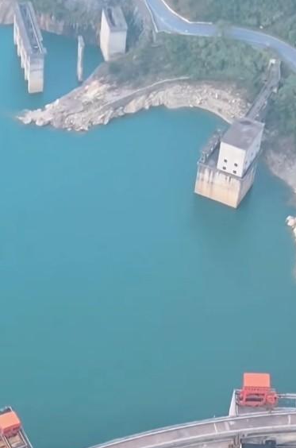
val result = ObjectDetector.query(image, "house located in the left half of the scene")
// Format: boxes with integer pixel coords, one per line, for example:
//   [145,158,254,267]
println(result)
[101,7,127,63]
